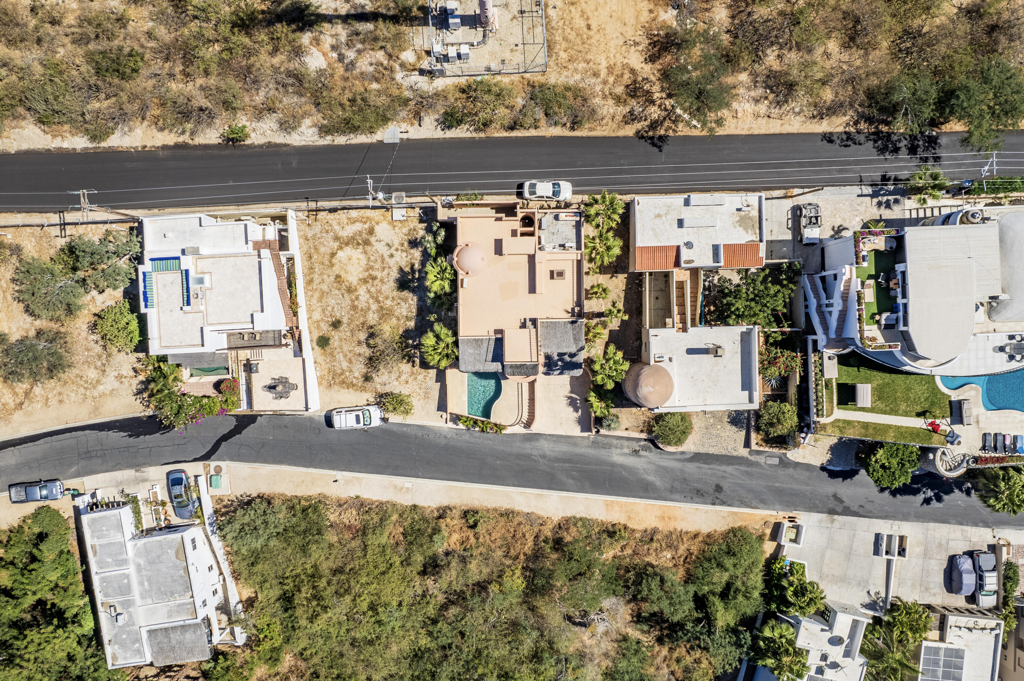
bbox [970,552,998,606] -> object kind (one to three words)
car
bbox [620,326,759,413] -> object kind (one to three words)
house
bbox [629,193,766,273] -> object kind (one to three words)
house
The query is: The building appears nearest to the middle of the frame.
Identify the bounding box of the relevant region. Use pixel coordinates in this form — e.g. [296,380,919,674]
[449,210,586,383]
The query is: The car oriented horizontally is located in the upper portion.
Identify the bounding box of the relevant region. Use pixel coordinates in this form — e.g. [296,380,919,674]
[524,179,571,201]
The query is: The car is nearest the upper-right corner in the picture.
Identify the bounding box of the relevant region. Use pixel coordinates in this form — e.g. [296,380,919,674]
[797,202,823,246]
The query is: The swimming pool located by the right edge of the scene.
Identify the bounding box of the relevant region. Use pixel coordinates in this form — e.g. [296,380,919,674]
[936,366,1024,416]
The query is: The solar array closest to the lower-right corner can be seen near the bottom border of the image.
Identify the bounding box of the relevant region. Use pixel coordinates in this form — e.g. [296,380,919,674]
[913,644,963,681]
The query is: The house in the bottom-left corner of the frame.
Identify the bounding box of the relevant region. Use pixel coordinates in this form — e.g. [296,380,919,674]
[73,484,243,670]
